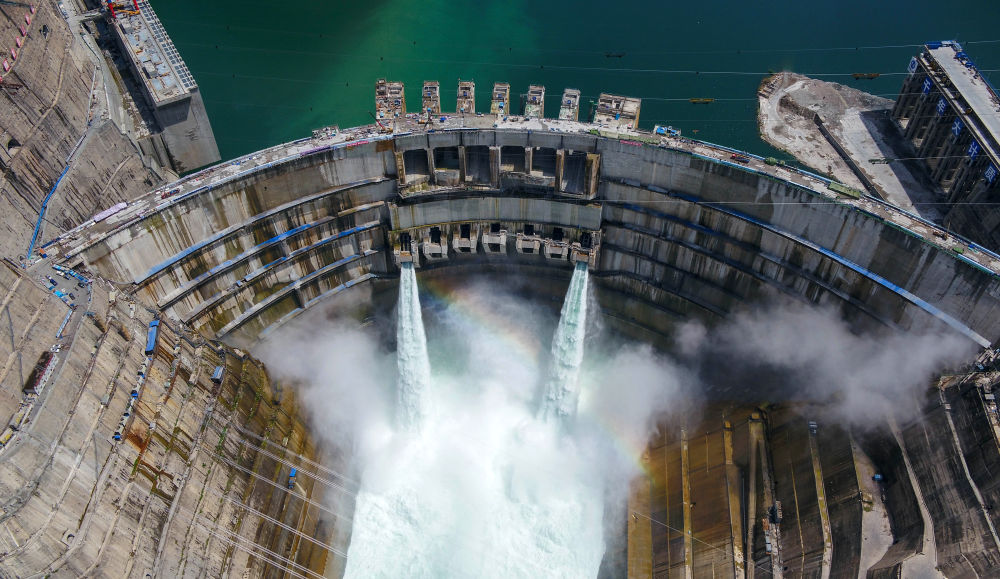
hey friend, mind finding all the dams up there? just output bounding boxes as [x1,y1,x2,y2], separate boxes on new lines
[27,80,1000,406]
